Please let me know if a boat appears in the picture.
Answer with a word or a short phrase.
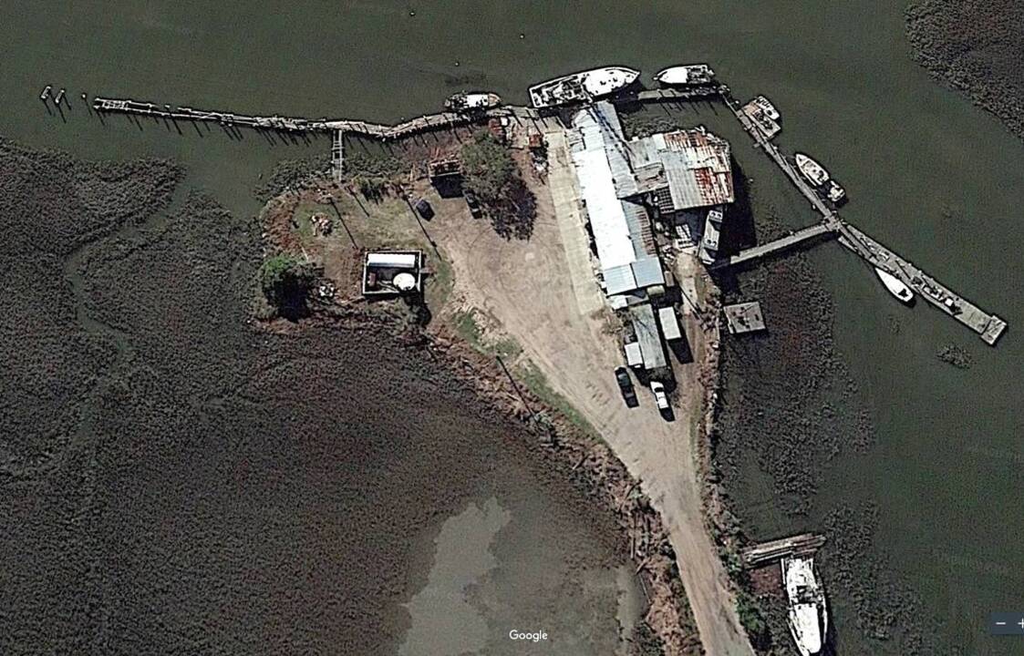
Yes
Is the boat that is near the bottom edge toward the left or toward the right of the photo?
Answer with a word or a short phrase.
right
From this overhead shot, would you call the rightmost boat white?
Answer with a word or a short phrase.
Yes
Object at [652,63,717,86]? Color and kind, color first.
white boat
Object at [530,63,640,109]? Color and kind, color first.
white boat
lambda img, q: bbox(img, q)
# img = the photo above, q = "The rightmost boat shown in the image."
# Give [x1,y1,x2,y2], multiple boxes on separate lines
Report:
[875,266,913,304]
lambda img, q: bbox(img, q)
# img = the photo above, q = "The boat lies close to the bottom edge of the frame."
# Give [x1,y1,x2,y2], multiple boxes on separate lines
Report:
[787,557,825,656]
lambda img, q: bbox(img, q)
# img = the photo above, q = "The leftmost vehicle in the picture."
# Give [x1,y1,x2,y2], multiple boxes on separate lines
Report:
[416,196,432,218]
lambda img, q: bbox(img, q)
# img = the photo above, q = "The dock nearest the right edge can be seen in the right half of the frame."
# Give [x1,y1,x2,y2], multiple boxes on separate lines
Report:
[981,315,1006,345]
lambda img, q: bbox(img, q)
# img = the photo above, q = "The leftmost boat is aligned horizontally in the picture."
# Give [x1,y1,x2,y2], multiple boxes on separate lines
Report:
[445,92,501,110]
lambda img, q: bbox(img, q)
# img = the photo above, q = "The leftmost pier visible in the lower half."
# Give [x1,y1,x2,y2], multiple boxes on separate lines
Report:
[745,532,825,584]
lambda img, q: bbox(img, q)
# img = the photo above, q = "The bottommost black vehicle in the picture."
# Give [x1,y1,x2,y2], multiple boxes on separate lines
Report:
[613,366,632,397]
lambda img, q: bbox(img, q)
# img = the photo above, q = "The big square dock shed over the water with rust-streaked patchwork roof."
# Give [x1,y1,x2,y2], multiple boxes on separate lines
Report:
[629,127,734,211]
